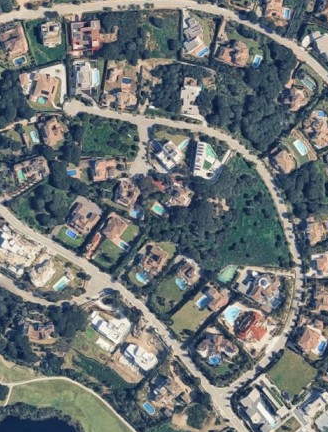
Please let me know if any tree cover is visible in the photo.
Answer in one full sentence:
Yes, some tree cover is visible.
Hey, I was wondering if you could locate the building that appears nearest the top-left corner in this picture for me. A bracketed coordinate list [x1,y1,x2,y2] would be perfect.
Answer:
[0,26,27,57]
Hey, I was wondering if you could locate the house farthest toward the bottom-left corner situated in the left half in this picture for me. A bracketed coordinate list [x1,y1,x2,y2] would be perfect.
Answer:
[26,322,54,339]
